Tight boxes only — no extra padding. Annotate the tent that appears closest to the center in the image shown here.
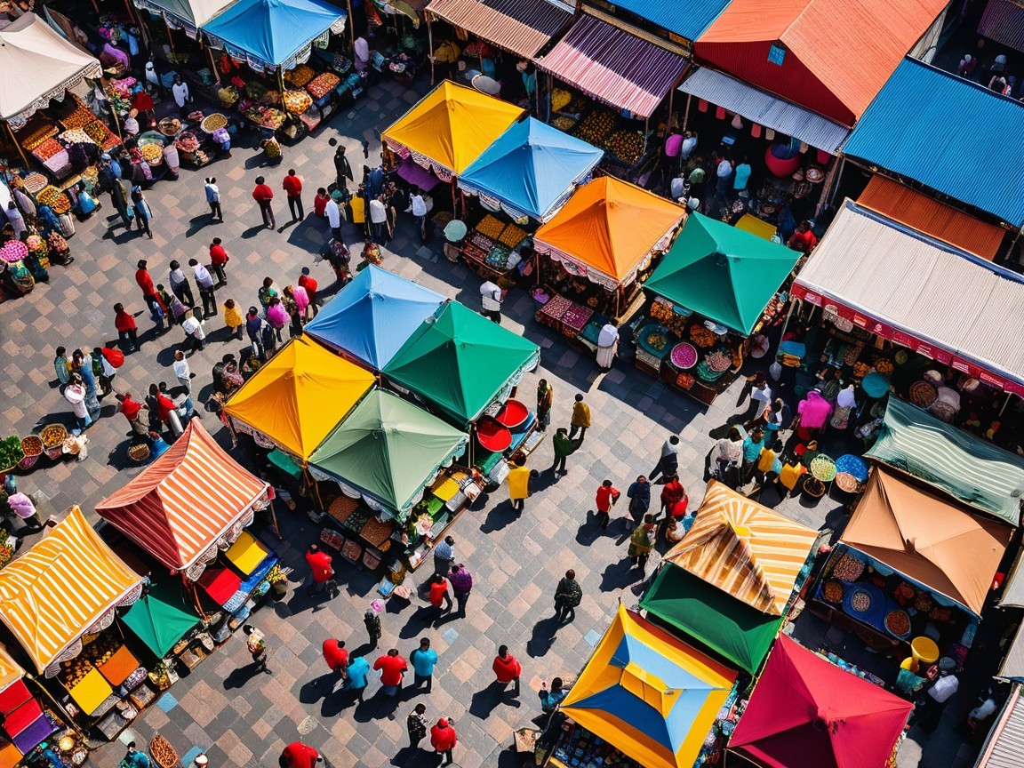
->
[381,300,541,475]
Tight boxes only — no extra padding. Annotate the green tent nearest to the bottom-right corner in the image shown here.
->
[639,564,777,719]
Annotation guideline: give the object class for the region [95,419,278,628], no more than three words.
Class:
tent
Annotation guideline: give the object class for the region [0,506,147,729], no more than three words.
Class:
tent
